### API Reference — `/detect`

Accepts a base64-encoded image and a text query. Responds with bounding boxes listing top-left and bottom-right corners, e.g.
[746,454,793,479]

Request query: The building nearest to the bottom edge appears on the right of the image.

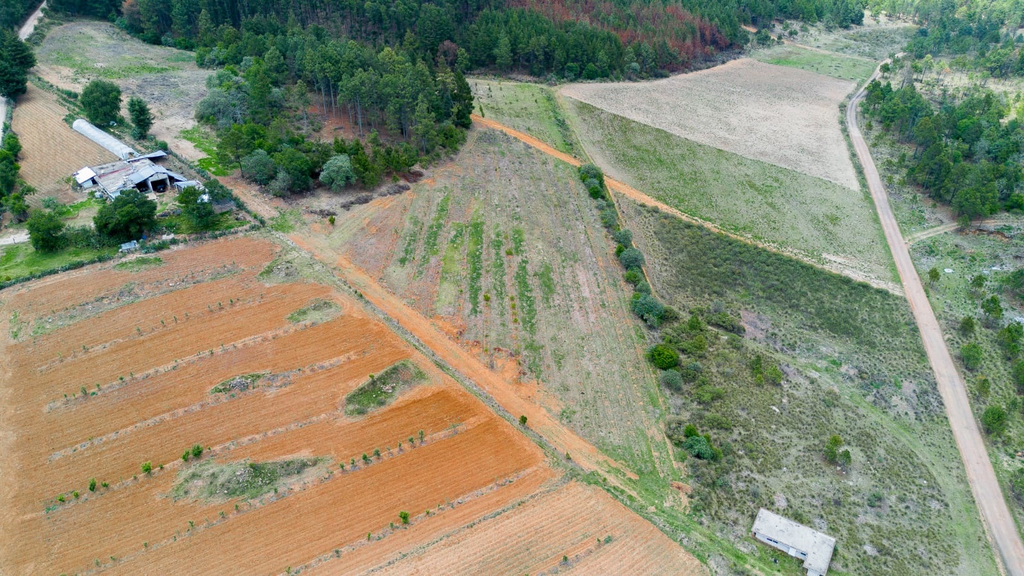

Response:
[750,509,835,576]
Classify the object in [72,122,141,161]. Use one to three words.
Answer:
greenhouse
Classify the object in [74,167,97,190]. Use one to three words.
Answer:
shed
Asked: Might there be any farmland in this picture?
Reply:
Yes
